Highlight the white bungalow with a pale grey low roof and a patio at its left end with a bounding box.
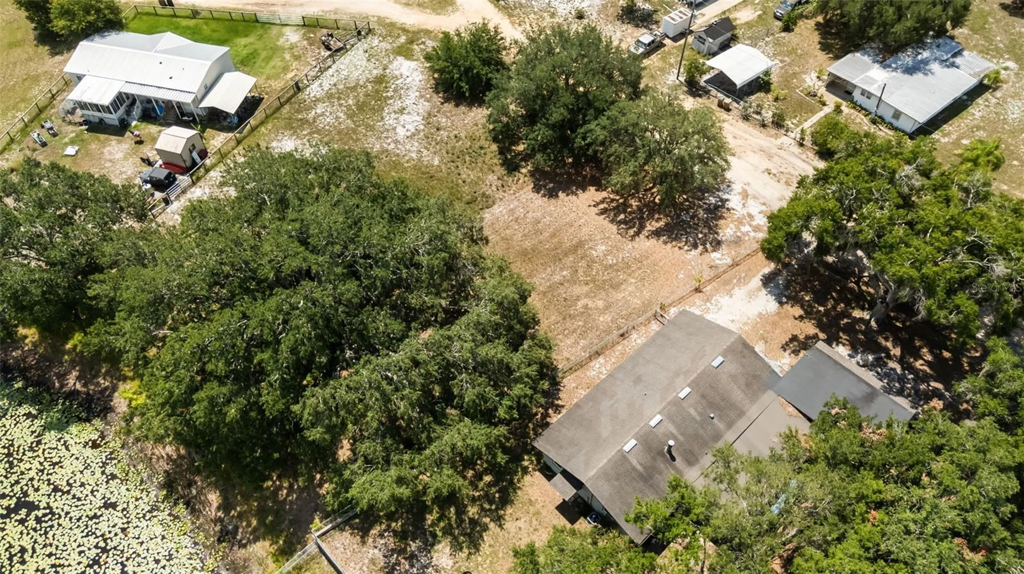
[821,35,994,136]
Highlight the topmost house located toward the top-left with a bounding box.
[63,29,234,124]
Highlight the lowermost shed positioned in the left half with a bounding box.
[154,127,205,170]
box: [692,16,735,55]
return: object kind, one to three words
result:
shed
